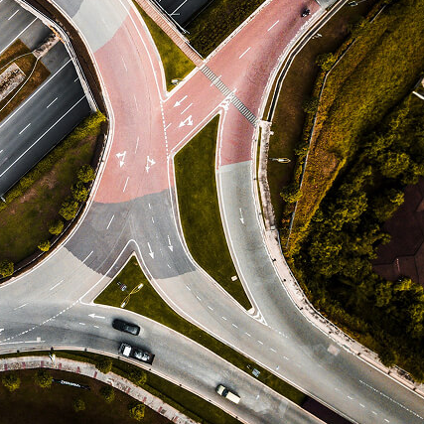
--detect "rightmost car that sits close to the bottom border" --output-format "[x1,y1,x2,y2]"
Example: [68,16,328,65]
[214,384,242,404]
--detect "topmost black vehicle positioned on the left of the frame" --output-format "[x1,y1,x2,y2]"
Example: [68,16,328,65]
[111,317,140,334]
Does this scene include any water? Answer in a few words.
No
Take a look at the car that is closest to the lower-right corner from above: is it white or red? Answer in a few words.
white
